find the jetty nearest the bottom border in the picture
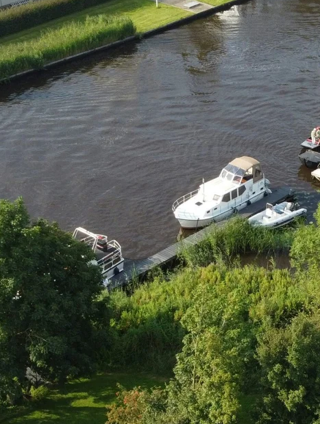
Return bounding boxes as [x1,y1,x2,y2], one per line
[126,185,303,281]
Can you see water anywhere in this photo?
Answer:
Yes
